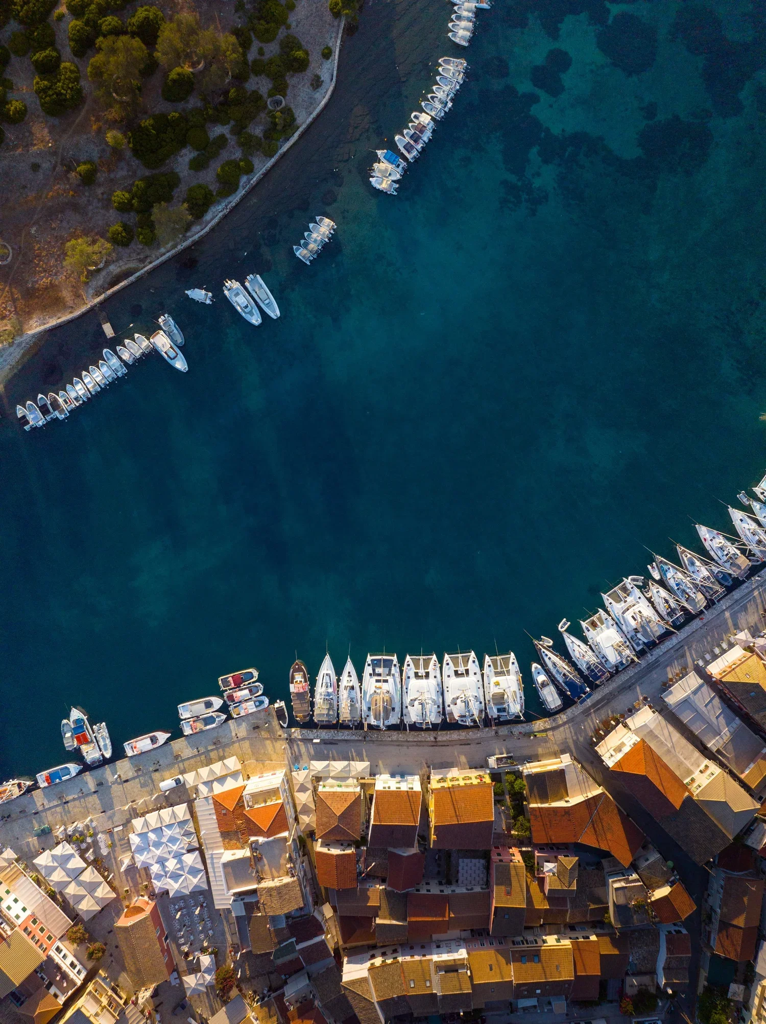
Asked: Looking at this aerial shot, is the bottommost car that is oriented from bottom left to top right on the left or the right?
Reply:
left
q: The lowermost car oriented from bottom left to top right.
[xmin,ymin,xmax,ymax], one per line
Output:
[170,996,192,1021]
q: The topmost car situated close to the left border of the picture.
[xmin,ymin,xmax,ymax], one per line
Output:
[30,825,50,838]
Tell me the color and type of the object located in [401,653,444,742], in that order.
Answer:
white boat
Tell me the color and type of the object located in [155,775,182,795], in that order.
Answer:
white vehicle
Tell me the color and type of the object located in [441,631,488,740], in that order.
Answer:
white boat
